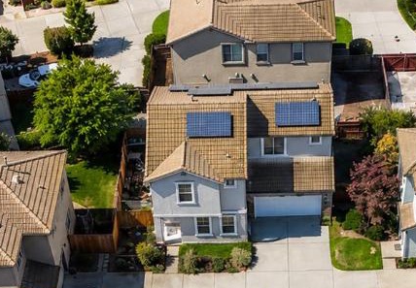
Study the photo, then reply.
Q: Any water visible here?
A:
No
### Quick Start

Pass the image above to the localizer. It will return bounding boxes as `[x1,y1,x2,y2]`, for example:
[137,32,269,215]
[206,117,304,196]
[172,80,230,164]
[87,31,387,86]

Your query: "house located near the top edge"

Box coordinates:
[164,0,337,85]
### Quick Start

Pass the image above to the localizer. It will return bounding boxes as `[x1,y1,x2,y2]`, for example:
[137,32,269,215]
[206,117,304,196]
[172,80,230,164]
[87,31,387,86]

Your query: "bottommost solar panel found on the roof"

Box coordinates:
[185,109,232,136]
